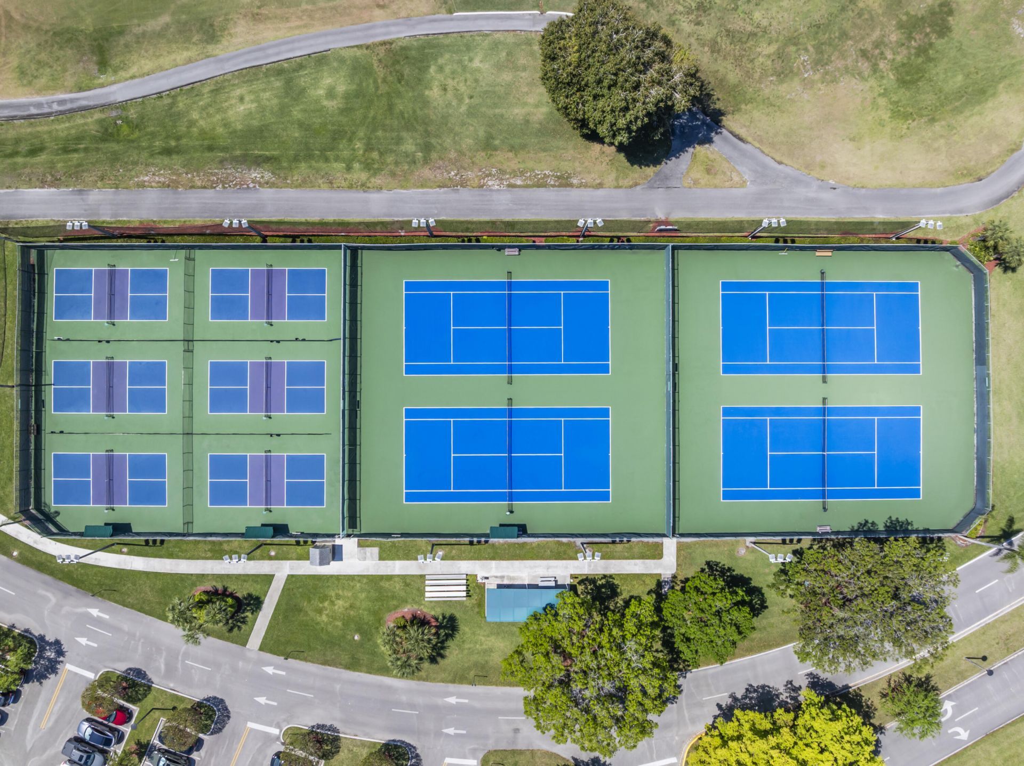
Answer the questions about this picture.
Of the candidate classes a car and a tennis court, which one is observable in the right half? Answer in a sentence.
The feature located in the right half is a tennis court.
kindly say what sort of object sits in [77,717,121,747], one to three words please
car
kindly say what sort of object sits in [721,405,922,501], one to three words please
tennis court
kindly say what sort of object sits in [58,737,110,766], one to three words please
truck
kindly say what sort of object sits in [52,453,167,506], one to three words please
sports court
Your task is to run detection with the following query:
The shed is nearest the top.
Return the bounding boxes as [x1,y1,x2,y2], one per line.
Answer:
[309,544,332,569]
